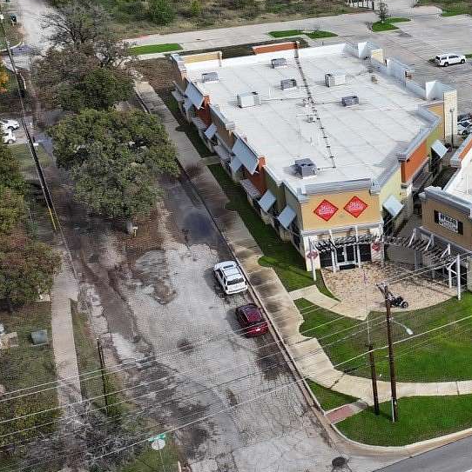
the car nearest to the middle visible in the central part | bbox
[214,262,248,294]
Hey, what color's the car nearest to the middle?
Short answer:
white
